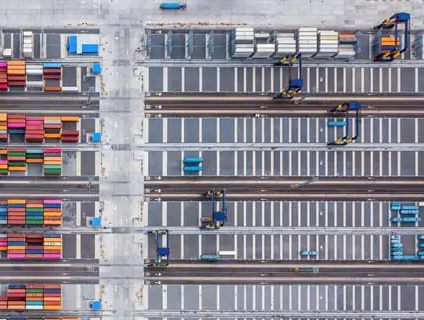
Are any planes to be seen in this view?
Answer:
No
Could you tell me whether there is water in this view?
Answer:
No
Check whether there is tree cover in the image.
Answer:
No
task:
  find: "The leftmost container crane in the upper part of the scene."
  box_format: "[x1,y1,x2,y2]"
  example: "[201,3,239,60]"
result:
[274,51,304,98]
